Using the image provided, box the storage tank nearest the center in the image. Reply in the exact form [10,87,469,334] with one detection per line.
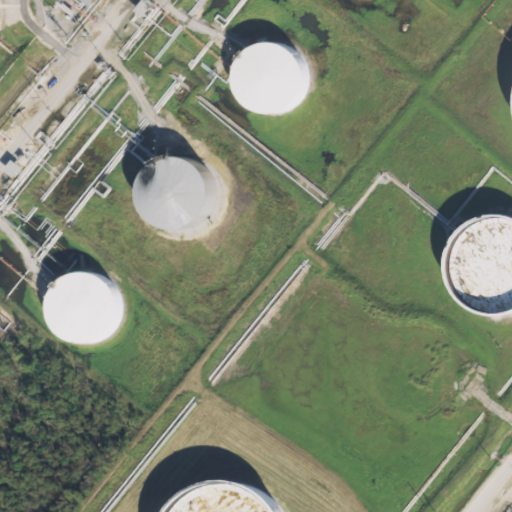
[132,151,218,236]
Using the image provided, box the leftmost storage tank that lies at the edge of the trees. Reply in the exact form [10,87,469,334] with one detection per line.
[42,270,122,346]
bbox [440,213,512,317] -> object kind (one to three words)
storage tank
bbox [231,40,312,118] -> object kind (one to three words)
storage tank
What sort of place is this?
industrial area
